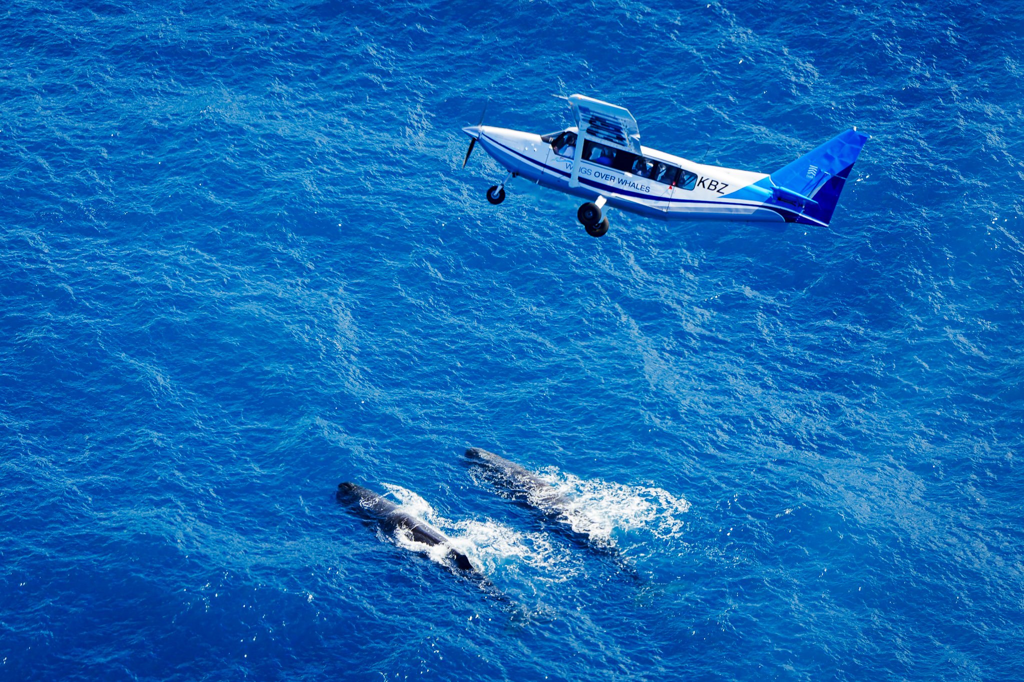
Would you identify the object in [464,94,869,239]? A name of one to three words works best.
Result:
airplane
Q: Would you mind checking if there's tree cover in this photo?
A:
No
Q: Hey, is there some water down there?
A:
Yes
